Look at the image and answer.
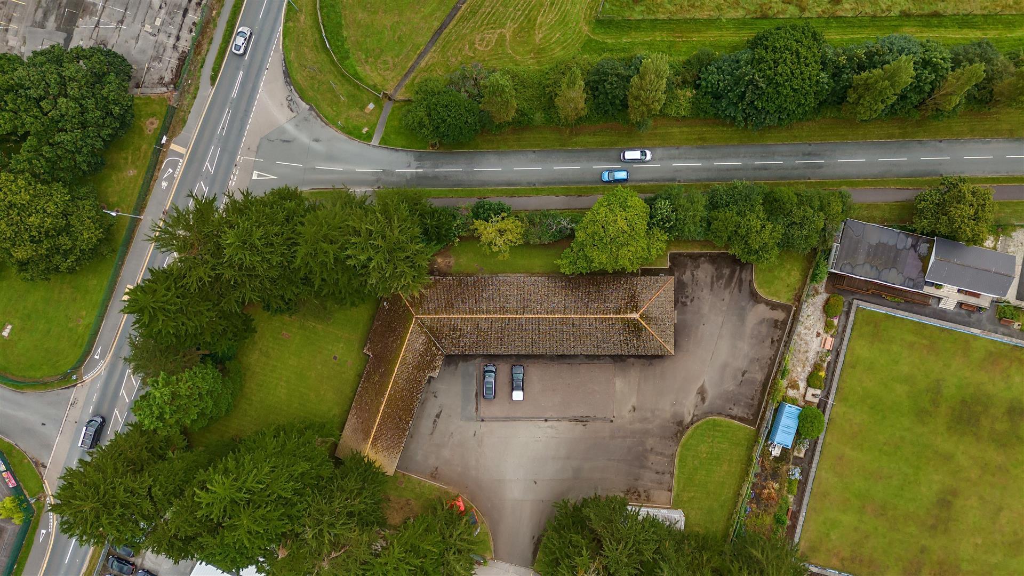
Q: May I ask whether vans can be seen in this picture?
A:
Yes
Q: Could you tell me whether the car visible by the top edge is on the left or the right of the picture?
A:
left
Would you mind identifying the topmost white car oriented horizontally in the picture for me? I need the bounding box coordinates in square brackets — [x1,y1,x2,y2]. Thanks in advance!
[621,149,651,163]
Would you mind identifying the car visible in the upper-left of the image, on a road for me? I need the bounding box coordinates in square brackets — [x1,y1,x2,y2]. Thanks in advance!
[233,26,254,58]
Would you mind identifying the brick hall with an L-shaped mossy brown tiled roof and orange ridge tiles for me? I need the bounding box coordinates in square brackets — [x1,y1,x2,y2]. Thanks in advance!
[335,273,678,476]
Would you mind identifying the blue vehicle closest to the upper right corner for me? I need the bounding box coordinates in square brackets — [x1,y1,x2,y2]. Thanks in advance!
[601,169,629,184]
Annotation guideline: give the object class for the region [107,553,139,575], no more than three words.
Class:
car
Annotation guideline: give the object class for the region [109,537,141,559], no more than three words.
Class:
car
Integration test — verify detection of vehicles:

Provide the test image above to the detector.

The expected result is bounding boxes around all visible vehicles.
[621,149,651,163]
[510,364,525,400]
[109,537,141,559]
[233,26,254,58]
[75,414,108,451]
[107,553,139,575]
[136,564,166,576]
[601,169,629,184]
[482,363,497,399]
